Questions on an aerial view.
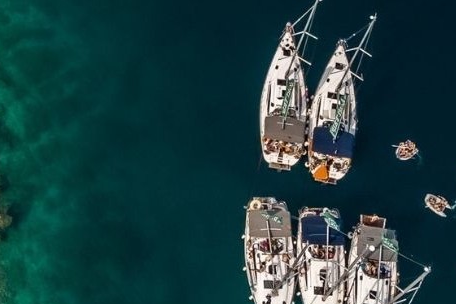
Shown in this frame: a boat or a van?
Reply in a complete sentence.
I can see a boat in this picture.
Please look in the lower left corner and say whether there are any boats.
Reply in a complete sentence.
No, no boat appears in the lower left corner.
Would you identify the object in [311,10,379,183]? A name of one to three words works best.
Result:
boat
